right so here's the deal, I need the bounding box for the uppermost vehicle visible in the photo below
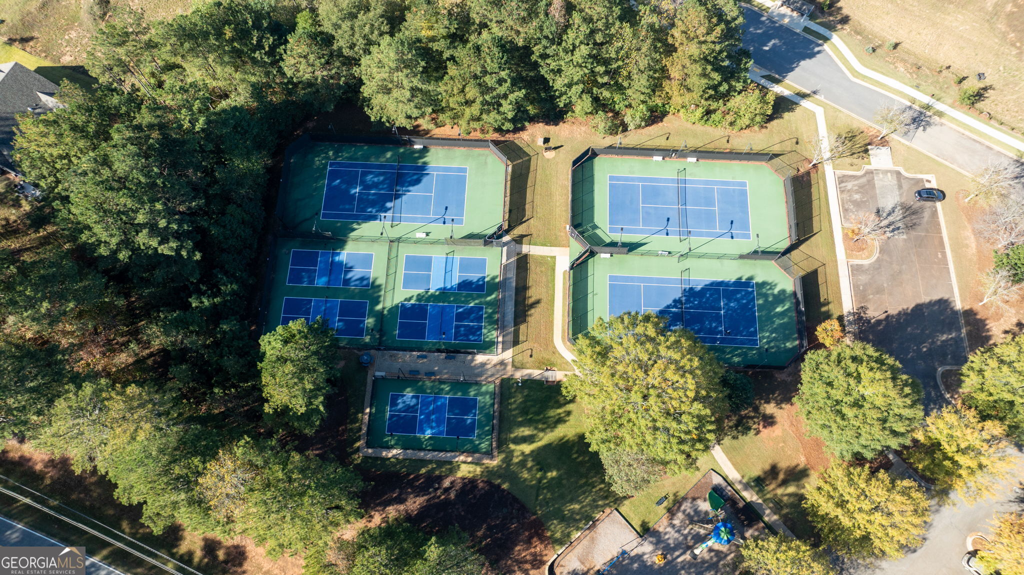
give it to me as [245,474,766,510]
[914,189,944,203]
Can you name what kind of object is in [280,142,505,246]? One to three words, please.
tennis court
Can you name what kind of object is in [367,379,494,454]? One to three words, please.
sports court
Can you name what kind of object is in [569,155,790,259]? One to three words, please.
tennis court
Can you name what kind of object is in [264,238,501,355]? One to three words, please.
sports court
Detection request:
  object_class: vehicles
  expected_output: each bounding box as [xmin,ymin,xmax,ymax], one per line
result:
[914,189,944,203]
[961,555,986,575]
